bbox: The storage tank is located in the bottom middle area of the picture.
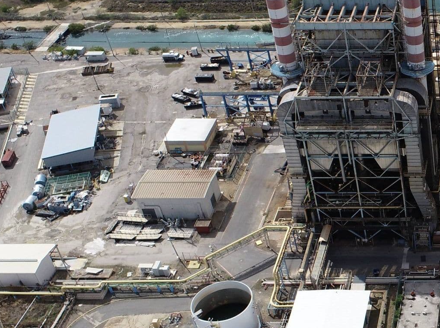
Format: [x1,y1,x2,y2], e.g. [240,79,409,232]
[185,279,261,328]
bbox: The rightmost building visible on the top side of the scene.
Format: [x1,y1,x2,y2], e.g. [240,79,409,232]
[279,0,440,237]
